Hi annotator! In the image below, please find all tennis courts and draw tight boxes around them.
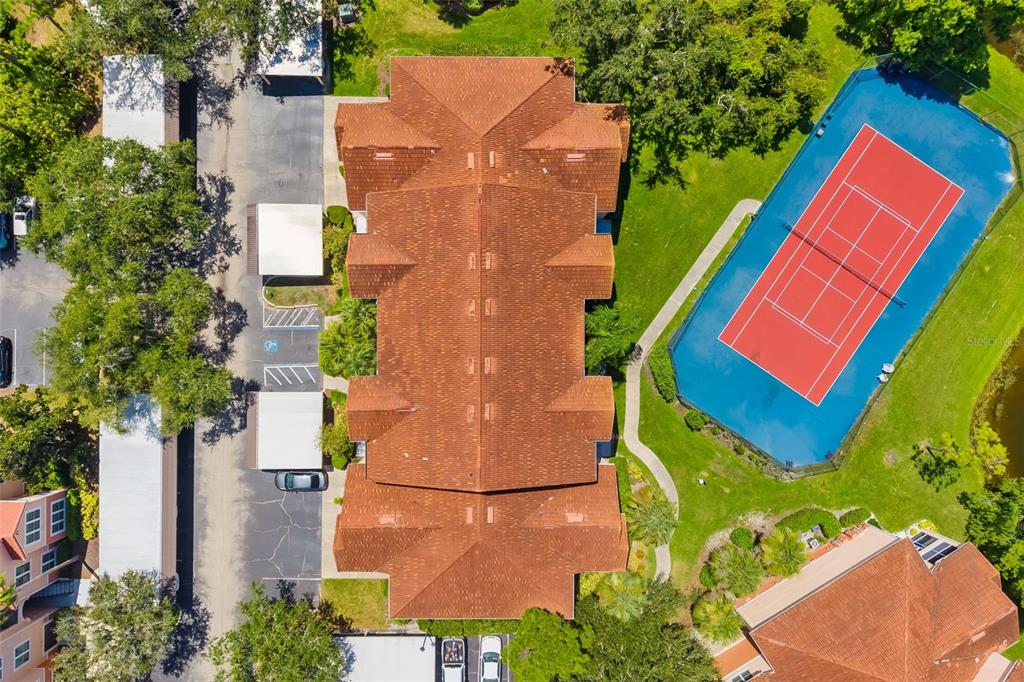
[670,65,1013,467]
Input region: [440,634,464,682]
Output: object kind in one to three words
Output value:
truck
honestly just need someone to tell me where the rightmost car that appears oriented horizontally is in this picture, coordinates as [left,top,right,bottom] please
[274,471,327,494]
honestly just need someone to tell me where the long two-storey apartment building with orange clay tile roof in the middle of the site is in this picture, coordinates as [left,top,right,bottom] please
[335,56,626,618]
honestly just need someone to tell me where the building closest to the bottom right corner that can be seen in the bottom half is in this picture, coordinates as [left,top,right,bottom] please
[712,522,1024,682]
